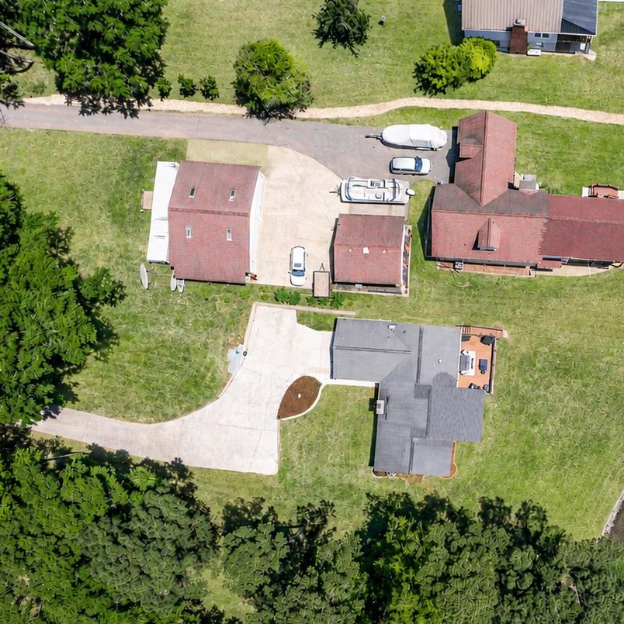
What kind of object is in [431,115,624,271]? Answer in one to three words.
house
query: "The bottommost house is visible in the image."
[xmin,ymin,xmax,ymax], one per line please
[333,318,483,476]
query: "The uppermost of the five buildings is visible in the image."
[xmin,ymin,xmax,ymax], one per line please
[461,0,598,61]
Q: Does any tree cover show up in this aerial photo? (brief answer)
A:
Yes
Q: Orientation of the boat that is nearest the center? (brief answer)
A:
from left to right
